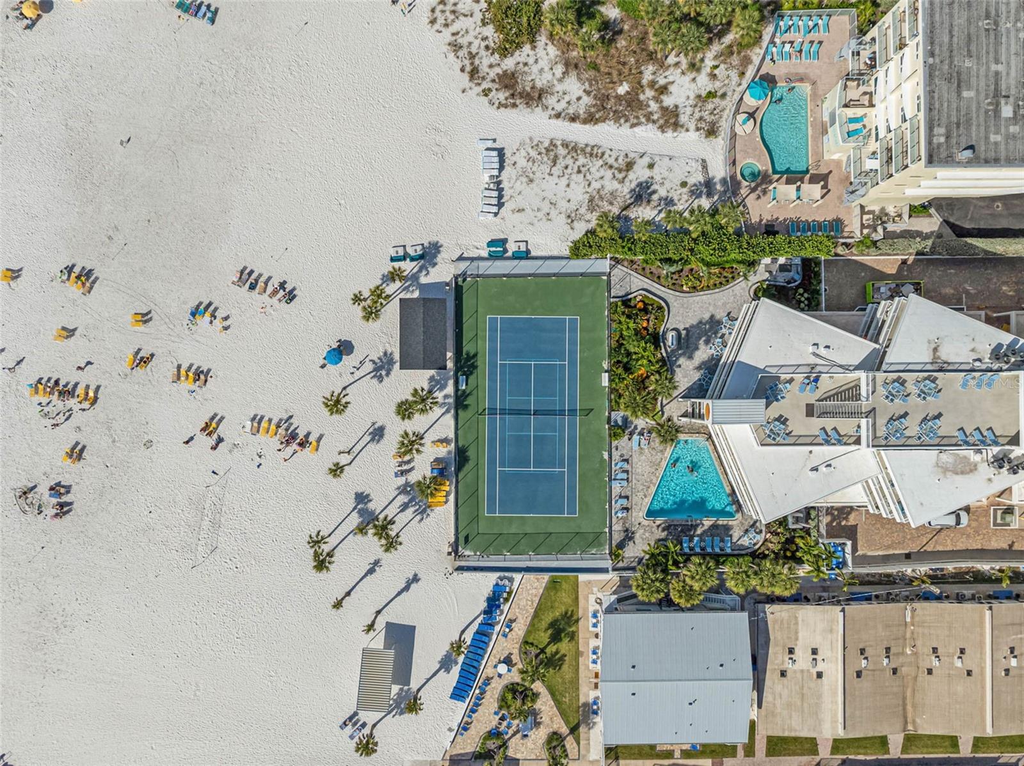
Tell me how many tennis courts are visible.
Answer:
1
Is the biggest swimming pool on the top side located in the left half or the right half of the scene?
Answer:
right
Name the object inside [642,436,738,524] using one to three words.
swimming pool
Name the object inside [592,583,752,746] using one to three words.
house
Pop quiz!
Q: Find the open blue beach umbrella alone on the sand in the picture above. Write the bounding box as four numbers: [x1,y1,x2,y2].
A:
[325,348,343,365]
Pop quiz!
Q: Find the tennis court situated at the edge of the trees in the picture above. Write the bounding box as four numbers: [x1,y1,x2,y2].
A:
[455,259,609,572]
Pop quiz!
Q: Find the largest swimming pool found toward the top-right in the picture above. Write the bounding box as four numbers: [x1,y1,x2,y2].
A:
[757,81,818,178]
